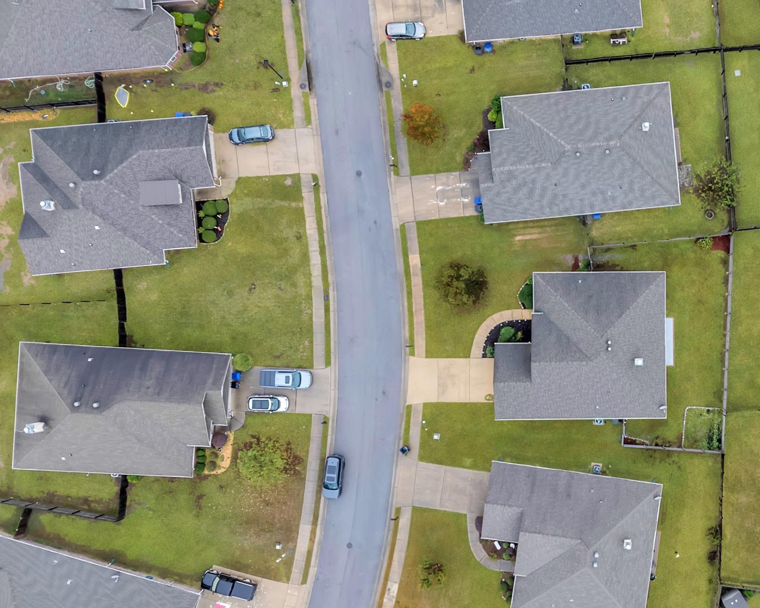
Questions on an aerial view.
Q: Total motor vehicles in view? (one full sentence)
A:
I count 6 motor vehicles.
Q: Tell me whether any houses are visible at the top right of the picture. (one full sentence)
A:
Yes, a house appears at the top right of the picture.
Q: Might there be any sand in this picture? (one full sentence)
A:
No, there's no sand in this view.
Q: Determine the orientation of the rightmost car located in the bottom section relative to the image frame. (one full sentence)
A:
In this picture, the rightmost car located in the bottom section lies up and down.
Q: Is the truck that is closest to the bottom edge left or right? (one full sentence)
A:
The truck that is closest to the bottom edge appears in the left half of the scene.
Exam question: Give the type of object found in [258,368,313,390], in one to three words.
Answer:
truck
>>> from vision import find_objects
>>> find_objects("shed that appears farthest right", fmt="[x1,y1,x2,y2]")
[720,590,748,608]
